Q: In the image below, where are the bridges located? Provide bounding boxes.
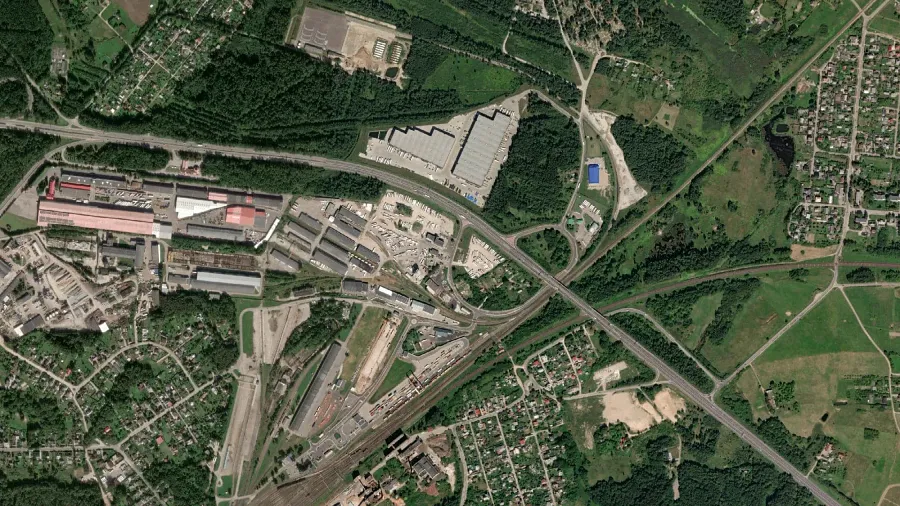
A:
[534,267,625,340]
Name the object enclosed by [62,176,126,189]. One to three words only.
building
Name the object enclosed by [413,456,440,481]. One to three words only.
building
